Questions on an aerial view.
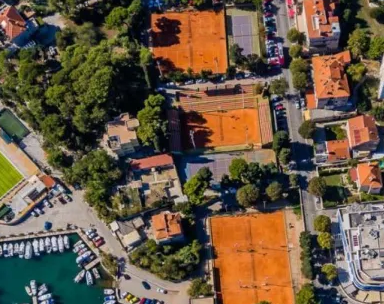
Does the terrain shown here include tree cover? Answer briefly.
Yes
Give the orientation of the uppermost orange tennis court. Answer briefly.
from side to side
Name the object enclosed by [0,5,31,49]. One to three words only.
house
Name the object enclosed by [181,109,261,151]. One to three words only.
tennis court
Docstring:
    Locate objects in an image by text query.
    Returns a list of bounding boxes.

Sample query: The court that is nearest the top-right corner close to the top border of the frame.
[226,7,265,68]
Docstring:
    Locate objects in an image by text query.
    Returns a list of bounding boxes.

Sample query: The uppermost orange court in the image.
[151,10,225,44]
